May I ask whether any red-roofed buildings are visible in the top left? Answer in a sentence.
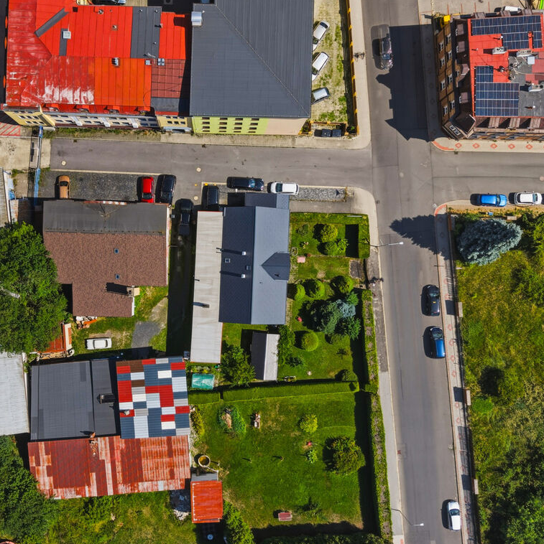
Yes, a red-roofed building shows up in the top left.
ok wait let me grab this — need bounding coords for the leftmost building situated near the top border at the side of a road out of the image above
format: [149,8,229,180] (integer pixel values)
[1,0,192,137]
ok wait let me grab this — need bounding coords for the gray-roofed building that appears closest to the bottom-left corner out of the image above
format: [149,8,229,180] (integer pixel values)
[31,358,119,440]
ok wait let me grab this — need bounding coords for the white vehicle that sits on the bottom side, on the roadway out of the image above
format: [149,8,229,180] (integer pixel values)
[445,502,460,529]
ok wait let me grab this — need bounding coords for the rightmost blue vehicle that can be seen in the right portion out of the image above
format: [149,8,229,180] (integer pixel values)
[478,193,505,206]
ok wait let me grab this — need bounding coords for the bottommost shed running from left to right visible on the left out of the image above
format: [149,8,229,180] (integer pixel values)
[28,434,191,500]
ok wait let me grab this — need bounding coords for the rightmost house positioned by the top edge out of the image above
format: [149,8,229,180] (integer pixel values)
[430,6,544,146]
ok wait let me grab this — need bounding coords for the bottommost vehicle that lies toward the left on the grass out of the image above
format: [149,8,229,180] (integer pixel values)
[86,338,111,350]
